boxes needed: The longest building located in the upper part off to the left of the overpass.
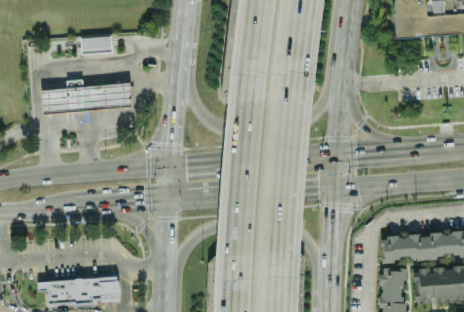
[42,79,132,116]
